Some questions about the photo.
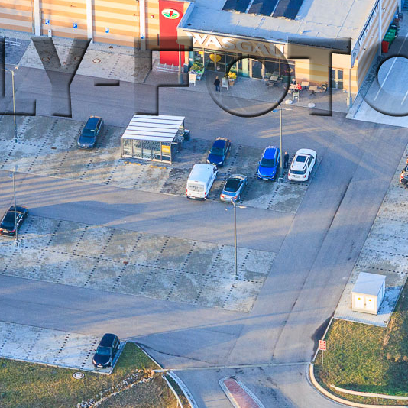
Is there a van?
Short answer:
Yes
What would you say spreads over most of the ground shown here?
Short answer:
paved ground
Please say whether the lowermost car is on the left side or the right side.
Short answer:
left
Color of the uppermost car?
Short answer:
blue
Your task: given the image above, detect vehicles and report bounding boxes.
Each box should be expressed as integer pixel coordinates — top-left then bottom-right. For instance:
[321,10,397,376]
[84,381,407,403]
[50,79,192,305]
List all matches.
[254,146,282,180]
[204,135,234,169]
[91,330,123,370]
[186,167,217,202]
[0,207,30,241]
[287,150,318,185]
[218,173,249,205]
[75,116,106,151]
